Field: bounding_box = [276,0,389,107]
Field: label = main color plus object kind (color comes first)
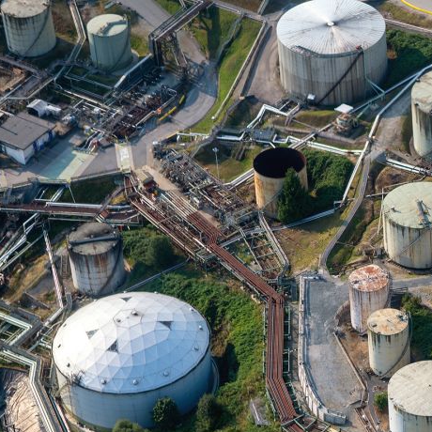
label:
white storage tank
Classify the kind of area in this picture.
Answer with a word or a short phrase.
industrial area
